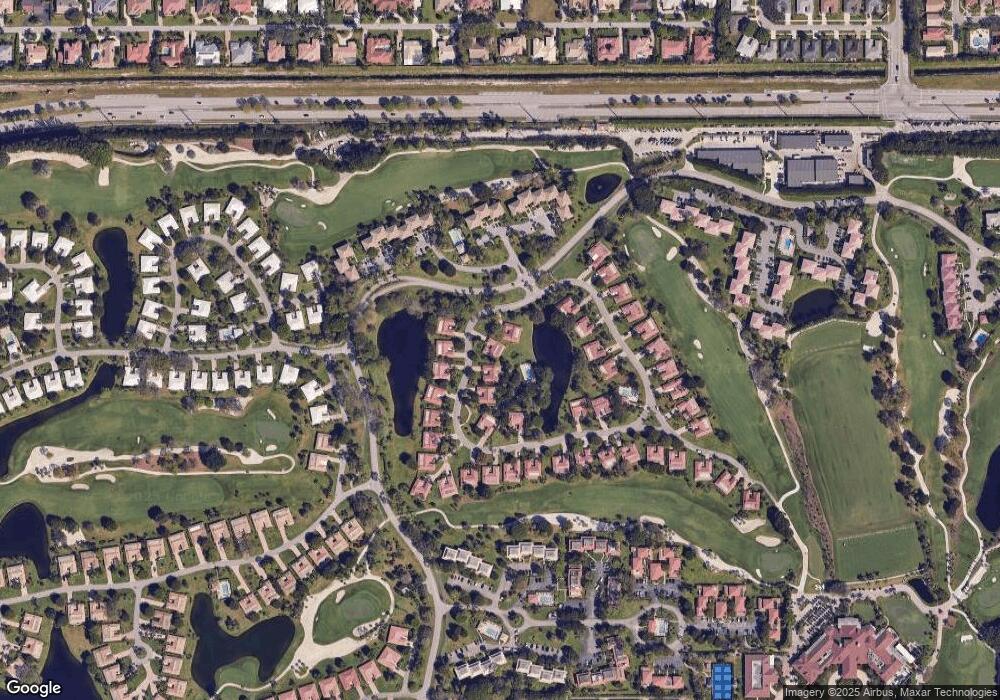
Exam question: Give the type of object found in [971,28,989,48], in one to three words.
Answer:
swimming pool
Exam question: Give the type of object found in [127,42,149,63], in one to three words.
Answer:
house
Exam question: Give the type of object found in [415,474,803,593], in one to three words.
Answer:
golf course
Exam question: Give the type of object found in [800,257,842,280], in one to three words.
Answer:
building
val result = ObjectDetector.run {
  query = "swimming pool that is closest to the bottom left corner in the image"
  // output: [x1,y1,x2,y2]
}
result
[218,579,231,598]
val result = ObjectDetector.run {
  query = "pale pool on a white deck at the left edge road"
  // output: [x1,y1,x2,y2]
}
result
[4,330,22,356]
